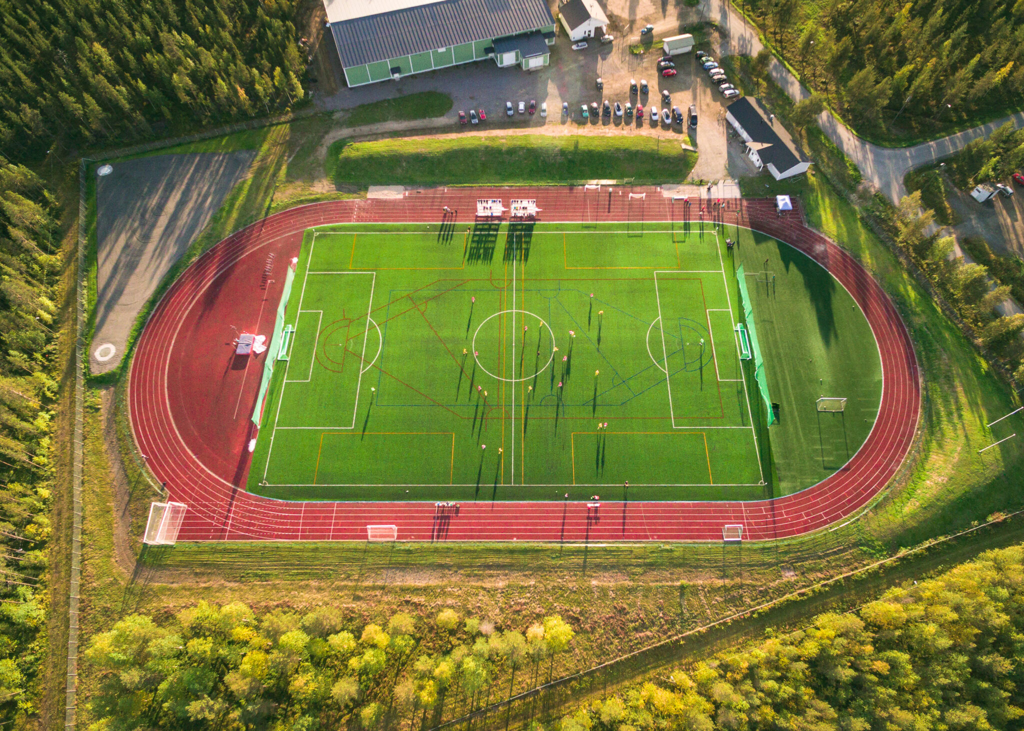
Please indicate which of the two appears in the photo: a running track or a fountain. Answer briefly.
running track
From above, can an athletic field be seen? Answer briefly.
Yes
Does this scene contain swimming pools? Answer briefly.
No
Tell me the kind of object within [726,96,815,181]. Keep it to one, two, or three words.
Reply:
building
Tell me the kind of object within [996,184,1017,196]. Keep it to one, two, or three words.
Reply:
vehicle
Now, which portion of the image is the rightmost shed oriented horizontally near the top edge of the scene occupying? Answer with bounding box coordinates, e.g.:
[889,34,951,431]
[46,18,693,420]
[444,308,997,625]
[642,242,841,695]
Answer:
[664,34,697,54]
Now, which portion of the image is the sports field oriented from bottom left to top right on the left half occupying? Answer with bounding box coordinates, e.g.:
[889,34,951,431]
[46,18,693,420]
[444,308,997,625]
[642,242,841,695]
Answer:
[87,150,257,373]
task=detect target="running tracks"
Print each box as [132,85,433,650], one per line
[128,184,922,541]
